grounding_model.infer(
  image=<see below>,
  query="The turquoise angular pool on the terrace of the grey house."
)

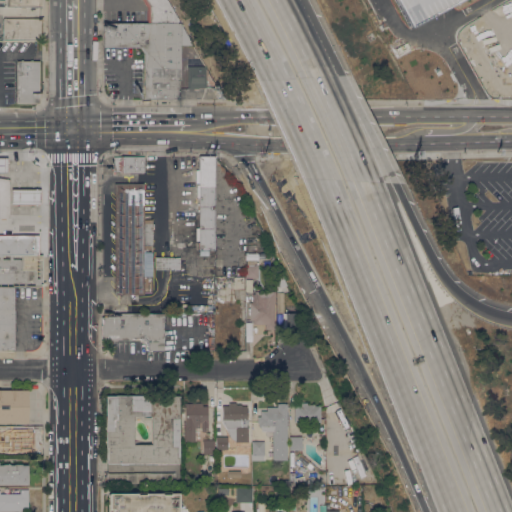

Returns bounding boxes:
[305,444,322,465]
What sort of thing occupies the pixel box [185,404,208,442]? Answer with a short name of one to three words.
house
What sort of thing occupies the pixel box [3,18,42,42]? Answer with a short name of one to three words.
building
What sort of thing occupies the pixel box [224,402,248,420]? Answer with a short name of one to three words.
house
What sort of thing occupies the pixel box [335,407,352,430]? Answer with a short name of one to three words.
vehicle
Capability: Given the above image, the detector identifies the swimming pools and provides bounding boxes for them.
[136,422,148,441]
[305,444,322,465]
[310,496,319,512]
